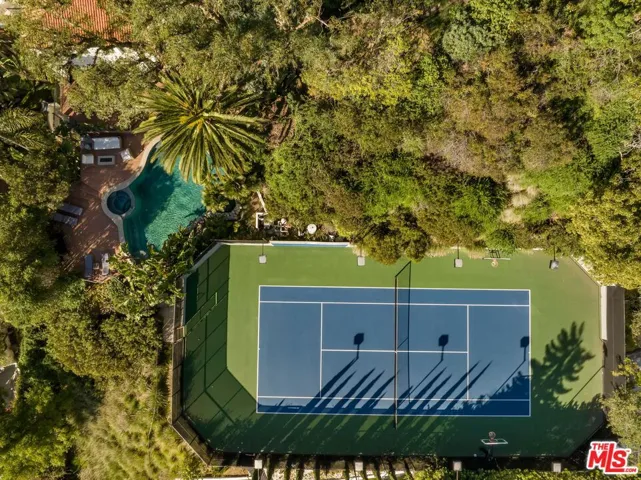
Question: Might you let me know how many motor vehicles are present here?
0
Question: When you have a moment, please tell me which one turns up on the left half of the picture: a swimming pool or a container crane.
swimming pool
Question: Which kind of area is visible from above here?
sports ground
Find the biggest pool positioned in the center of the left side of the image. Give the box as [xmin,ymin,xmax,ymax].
[116,137,217,260]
